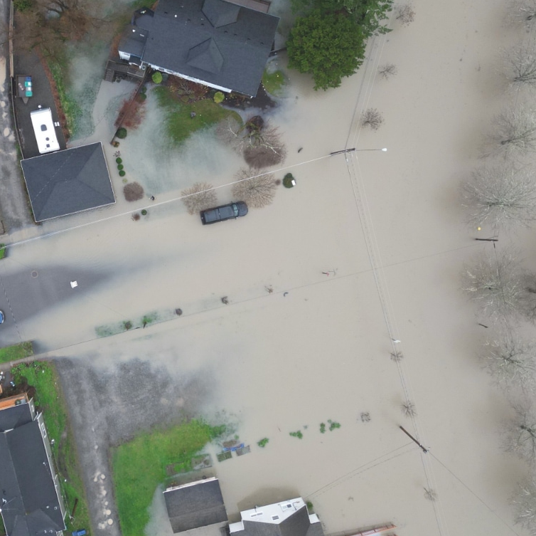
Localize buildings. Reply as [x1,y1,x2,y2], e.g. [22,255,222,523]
[102,0,280,97]
[0,388,66,536]
[229,497,322,536]
[20,141,116,222]
[163,475,228,534]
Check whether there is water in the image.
Yes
